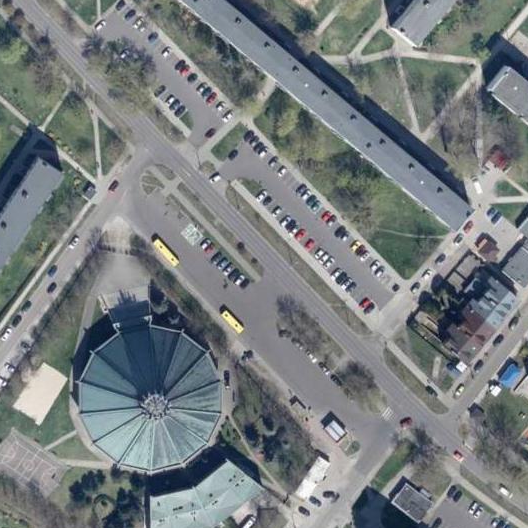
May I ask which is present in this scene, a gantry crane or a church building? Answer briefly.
church building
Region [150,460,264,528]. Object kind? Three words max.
house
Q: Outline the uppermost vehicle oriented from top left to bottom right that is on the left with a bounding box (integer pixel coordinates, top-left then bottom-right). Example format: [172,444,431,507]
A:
[151,237,180,265]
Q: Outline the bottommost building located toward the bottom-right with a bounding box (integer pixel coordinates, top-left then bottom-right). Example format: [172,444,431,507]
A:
[392,482,433,523]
